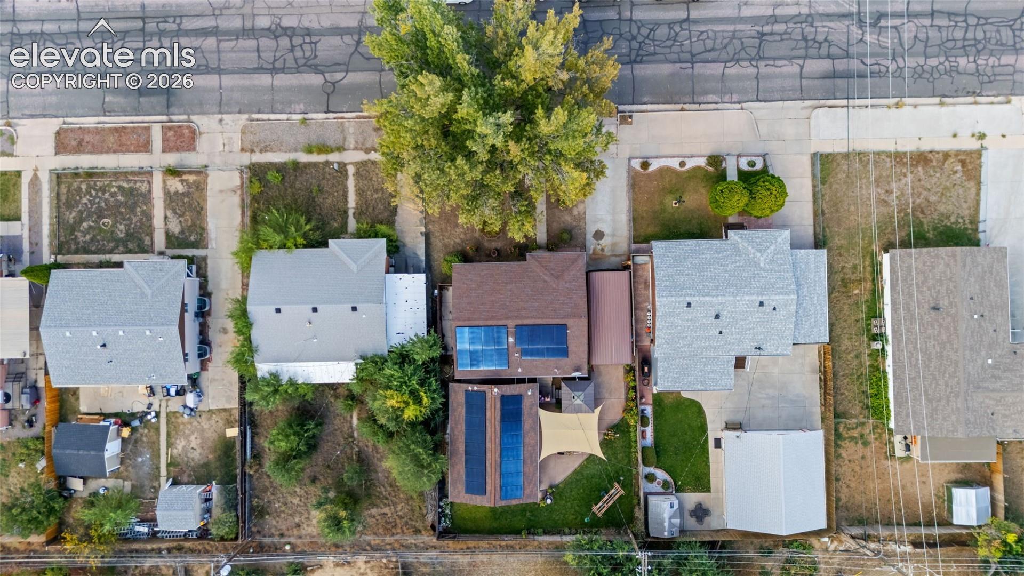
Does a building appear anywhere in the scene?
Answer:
Yes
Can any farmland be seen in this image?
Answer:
No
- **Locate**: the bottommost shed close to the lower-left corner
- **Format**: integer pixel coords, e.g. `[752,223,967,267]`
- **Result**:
[157,477,209,531]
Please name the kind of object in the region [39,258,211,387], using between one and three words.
house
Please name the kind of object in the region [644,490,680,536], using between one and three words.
shed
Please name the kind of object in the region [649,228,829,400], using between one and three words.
house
